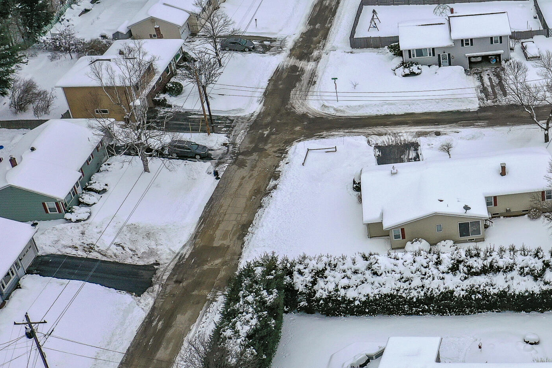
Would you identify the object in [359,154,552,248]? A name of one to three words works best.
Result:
house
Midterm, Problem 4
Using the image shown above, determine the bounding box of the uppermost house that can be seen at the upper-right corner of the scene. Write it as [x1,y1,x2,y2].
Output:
[399,10,513,69]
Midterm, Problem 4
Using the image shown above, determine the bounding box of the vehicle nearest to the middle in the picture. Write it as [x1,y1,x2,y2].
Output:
[165,142,208,161]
